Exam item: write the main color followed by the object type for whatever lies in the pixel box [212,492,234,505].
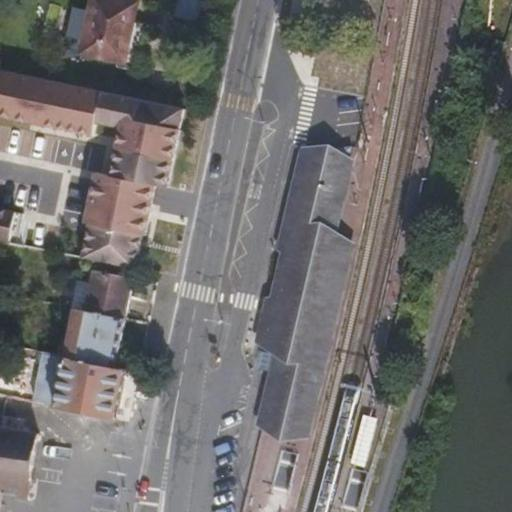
white vehicle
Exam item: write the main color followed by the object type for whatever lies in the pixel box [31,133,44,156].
white vehicle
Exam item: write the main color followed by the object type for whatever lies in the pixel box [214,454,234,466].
gray vehicle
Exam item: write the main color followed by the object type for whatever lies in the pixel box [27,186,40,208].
gray vehicle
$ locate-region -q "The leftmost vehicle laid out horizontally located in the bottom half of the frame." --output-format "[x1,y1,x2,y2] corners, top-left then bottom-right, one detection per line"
[43,446,72,460]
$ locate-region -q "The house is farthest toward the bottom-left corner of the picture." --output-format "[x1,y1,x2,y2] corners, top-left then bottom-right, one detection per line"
[0,426,36,500]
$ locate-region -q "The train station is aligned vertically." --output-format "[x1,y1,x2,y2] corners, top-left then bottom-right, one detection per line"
[255,144,354,440]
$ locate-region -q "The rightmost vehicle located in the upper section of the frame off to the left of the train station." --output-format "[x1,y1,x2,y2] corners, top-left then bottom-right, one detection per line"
[209,154,222,176]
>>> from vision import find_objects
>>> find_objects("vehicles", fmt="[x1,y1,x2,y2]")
[212,492,234,505]
[31,133,44,156]
[138,478,148,499]
[14,184,26,206]
[336,96,359,108]
[64,184,85,196]
[222,412,243,426]
[8,130,21,152]
[43,446,72,460]
[33,224,44,245]
[214,454,234,466]
[96,484,118,497]
[62,198,82,210]
[27,186,40,208]
[214,506,236,512]
[214,466,234,478]
[0,182,12,205]
[214,442,237,455]
[214,478,236,491]
[209,154,222,176]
